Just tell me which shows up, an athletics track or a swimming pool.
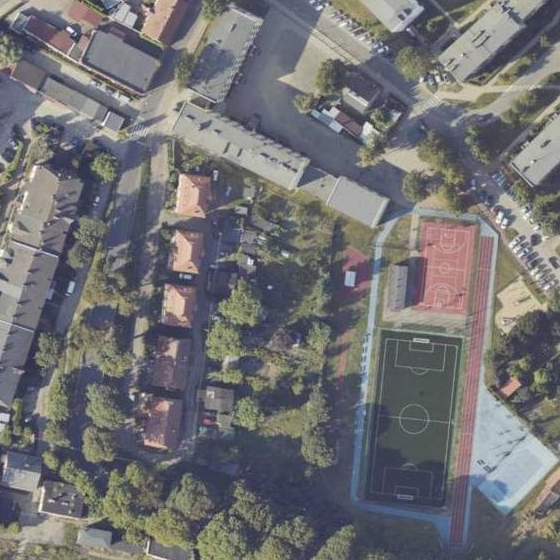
athletics track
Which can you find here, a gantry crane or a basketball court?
basketball court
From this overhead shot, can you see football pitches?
Yes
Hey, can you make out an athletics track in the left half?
No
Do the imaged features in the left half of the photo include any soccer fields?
No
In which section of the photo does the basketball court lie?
right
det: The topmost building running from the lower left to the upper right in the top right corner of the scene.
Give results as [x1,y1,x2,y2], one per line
[438,4,525,85]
